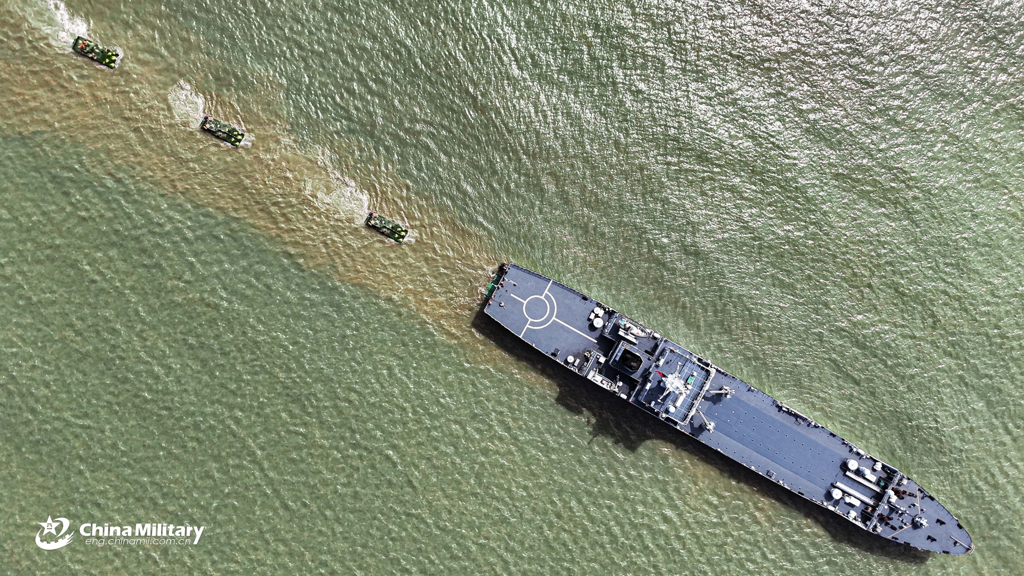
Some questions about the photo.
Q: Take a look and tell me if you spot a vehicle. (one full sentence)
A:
Yes, I can see a vehicle in this picture.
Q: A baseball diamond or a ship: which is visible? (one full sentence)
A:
There is a ship in the scene.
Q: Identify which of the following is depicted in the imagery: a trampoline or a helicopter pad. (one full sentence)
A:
This aerial view contains a helicopter pad.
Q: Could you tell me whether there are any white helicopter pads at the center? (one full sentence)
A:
Yes, the scene does show a white helicopter pad at the center.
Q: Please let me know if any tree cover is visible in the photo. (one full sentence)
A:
No, the picture contains no tree cover.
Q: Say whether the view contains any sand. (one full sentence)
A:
No, the scene doesn't show any sand.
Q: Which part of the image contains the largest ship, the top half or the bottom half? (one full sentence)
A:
Seen from above, the largest ship lies in the bottom half of the view.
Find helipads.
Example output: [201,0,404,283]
[510,280,597,342]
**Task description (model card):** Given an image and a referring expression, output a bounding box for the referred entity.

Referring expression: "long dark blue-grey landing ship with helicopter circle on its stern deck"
[485,263,975,555]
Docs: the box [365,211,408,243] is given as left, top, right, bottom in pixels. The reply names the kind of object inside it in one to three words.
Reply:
vehicle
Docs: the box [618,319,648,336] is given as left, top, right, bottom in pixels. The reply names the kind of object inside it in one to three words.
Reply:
boat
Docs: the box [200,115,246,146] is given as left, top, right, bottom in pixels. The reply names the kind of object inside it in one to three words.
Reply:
vehicle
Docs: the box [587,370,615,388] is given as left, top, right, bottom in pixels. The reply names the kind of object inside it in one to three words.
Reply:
boat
